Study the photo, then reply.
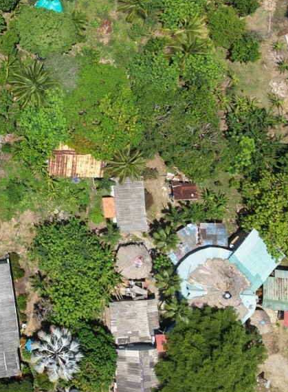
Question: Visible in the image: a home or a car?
home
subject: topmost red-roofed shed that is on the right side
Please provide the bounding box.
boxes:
[168,180,198,200]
